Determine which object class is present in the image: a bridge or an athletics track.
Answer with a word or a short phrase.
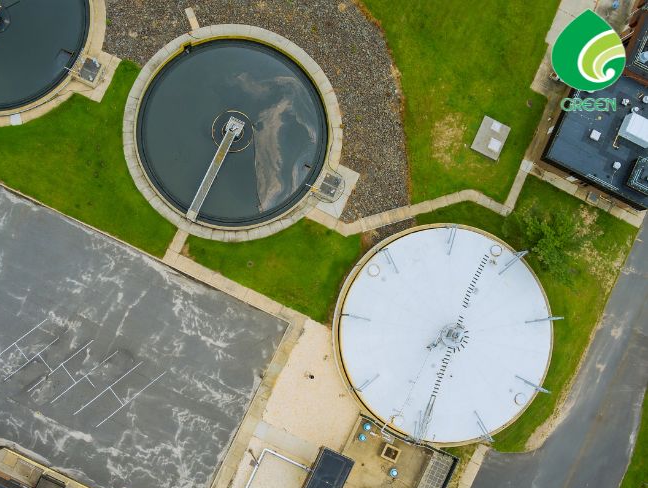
bridge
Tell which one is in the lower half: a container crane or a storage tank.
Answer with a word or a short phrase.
storage tank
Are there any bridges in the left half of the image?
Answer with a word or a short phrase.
Yes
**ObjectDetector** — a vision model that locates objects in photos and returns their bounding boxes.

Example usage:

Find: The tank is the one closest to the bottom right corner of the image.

[331,224,561,445]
